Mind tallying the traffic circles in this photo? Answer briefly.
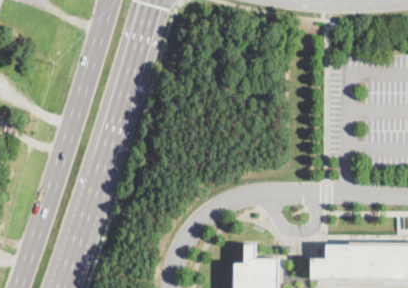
0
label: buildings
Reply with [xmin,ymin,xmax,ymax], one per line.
[310,242,408,281]
[233,243,278,288]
